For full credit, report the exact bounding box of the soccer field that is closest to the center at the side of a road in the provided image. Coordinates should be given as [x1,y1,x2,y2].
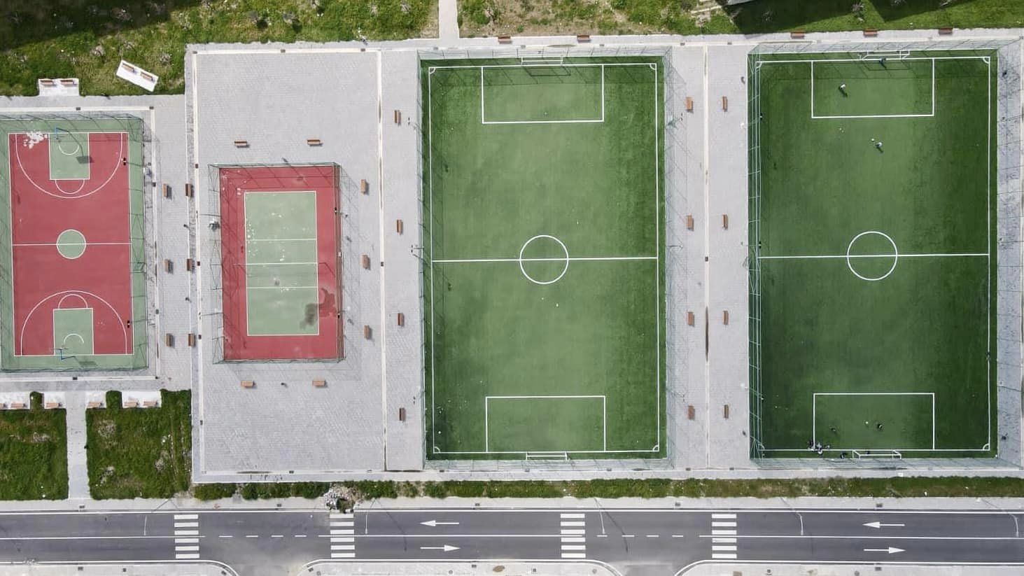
[420,55,668,460]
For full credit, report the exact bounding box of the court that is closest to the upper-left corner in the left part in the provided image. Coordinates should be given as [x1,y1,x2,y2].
[0,118,148,370]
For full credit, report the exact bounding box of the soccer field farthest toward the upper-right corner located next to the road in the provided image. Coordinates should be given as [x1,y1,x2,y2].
[748,48,998,460]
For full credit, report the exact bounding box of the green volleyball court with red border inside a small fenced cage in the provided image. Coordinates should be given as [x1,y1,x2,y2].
[219,166,344,361]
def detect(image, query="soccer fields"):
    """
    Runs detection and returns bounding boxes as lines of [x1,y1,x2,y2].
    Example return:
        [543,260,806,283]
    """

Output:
[748,48,998,460]
[420,55,668,460]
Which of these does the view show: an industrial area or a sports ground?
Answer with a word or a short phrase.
sports ground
